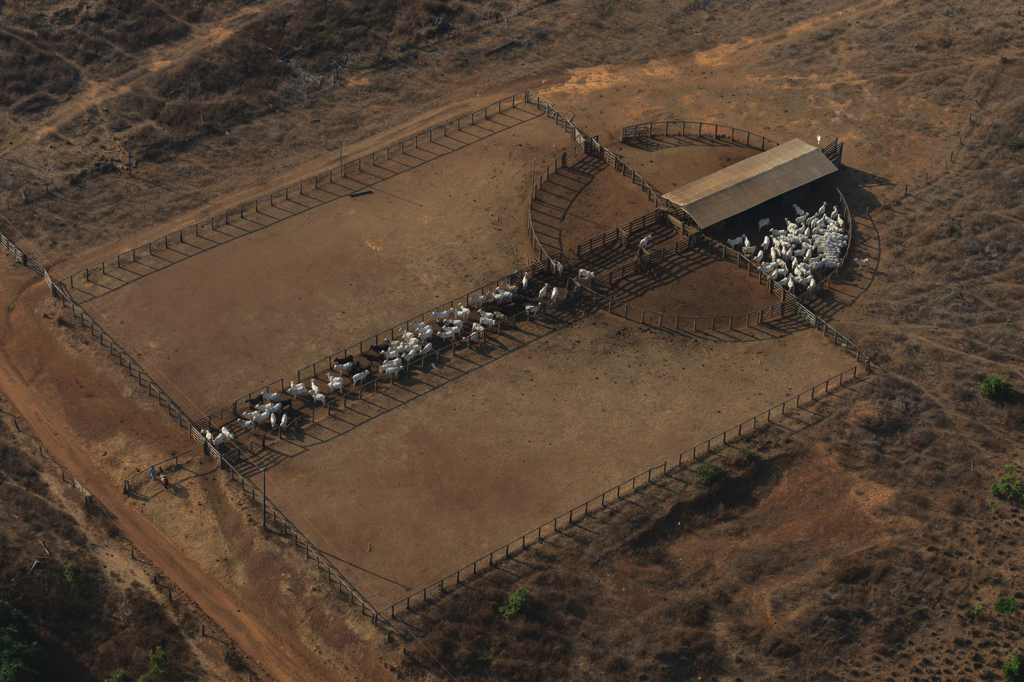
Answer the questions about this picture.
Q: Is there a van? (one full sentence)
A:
No, there isn't any van down there.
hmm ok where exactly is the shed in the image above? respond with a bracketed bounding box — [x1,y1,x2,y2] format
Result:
[662,137,836,245]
